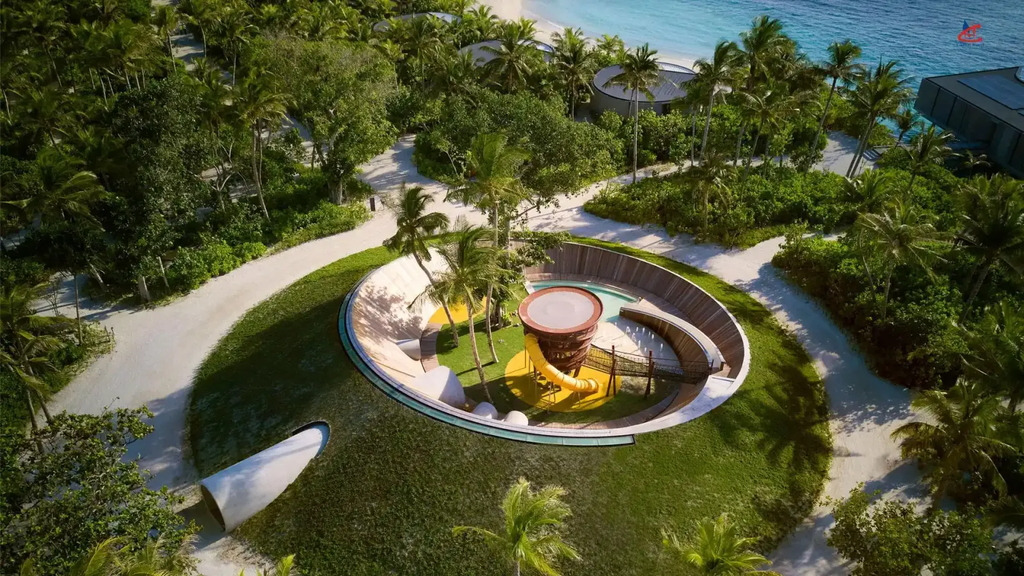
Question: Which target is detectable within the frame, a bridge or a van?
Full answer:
There is a bridge in the scene.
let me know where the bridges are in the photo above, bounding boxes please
[584,337,717,400]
